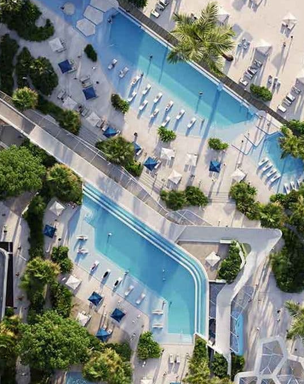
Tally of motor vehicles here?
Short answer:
0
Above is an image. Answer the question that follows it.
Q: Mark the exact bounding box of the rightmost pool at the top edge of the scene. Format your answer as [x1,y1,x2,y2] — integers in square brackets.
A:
[91,6,261,147]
